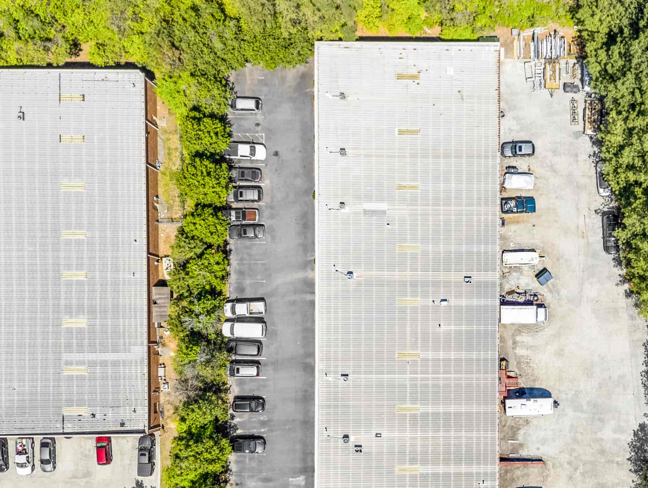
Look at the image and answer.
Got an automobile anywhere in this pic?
Yes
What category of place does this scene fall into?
industrial area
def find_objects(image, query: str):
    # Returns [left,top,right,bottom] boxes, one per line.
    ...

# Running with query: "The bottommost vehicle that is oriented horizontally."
[230,438,268,455]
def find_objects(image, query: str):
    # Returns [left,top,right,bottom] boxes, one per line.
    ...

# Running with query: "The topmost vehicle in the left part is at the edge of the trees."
[227,96,263,114]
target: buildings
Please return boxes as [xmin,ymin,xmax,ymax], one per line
[0,66,161,435]
[315,40,502,488]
